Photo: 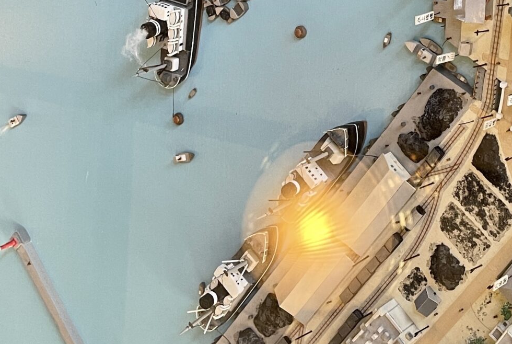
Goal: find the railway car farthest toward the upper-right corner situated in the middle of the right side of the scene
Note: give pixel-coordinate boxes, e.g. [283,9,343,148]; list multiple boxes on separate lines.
[427,143,447,161]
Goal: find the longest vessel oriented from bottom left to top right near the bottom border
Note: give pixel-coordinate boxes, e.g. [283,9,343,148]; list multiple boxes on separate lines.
[184,222,301,338]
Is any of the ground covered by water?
Yes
